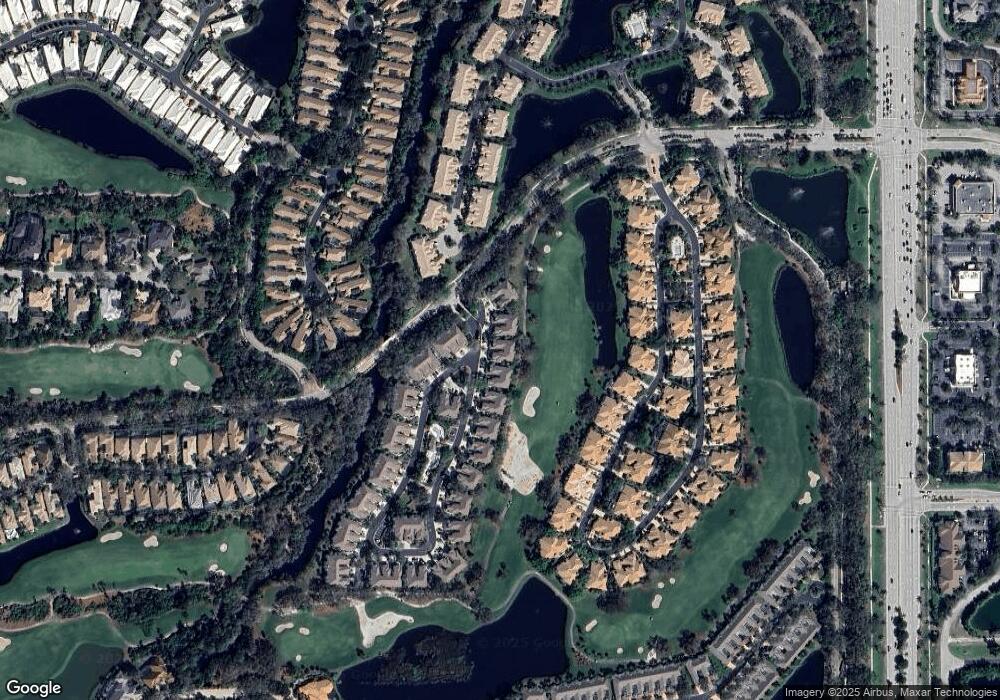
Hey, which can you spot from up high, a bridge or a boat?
bridge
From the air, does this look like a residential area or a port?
residential area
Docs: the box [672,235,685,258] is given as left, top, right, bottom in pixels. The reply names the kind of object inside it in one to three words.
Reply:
swimming pool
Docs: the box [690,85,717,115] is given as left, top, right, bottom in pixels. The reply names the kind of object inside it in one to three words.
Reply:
building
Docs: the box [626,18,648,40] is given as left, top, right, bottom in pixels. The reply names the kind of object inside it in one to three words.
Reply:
swimming pool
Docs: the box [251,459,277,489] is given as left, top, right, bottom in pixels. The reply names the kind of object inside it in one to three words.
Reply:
house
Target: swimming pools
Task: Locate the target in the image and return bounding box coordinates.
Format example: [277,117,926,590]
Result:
[626,18,648,40]
[431,426,443,440]
[672,235,685,258]
[430,451,438,464]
